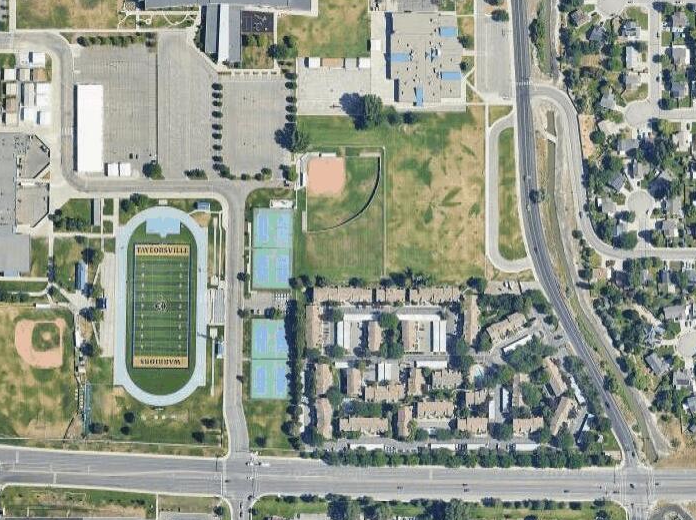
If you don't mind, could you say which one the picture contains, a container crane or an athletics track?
athletics track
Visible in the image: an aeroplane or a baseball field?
baseball field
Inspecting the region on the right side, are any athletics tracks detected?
No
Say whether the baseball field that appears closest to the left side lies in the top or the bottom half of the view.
bottom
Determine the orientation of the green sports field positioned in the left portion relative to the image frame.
vertically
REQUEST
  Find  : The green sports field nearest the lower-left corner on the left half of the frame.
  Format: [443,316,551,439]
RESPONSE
[126,222,196,395]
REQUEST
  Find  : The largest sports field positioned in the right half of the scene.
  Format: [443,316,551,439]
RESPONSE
[386,112,484,281]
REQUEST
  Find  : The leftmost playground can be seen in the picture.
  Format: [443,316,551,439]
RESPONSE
[241,11,273,32]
